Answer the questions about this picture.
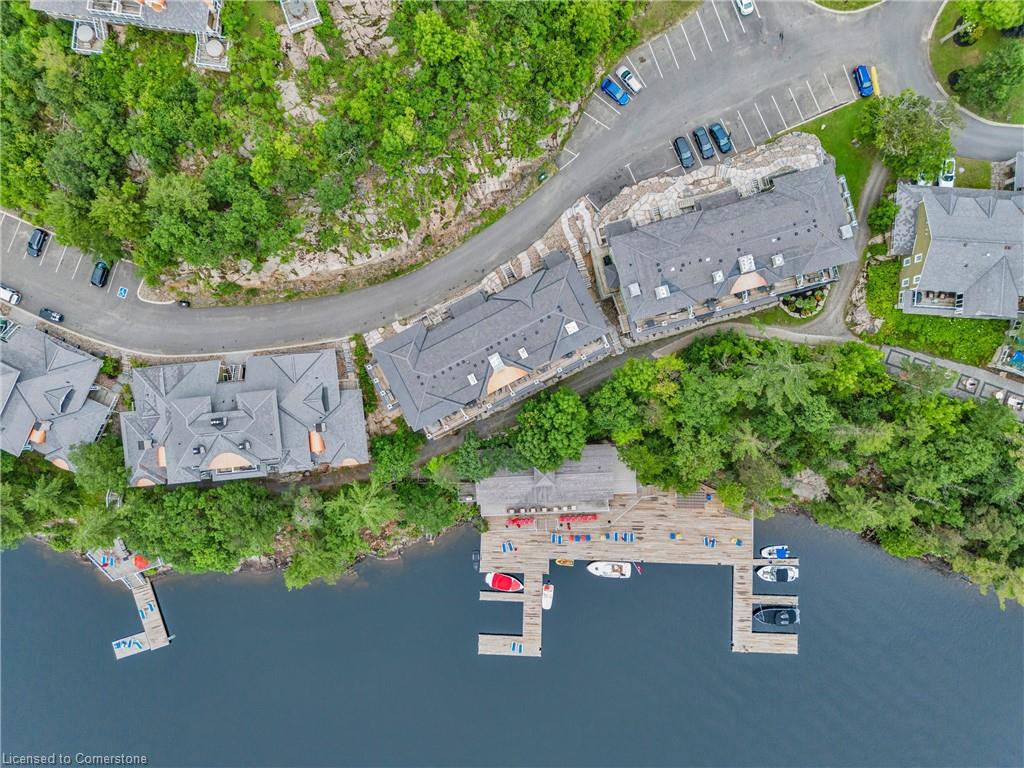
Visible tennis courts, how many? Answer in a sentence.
I count no tennis courts.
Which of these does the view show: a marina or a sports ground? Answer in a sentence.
The area seen from above is a marina.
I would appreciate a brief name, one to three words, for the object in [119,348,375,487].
house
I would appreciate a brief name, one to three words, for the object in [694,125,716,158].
car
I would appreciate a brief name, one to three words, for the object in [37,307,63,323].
car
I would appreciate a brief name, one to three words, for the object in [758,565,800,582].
boat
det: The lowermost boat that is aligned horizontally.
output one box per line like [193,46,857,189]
[752,610,800,626]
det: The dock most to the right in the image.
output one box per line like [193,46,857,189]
[477,484,799,657]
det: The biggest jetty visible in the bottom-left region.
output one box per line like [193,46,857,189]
[112,577,172,660]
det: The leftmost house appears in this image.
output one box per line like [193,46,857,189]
[0,311,120,472]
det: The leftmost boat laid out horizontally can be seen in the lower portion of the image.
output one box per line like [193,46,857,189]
[481,573,523,592]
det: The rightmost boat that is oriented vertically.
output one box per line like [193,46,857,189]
[542,582,554,611]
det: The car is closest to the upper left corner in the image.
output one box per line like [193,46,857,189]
[22,225,47,258]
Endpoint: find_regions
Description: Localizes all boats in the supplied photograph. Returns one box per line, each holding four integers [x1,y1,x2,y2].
[758,565,800,582]
[556,560,574,566]
[763,546,795,558]
[542,582,554,611]
[752,610,800,626]
[481,573,523,592]
[473,551,480,571]
[587,563,646,579]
